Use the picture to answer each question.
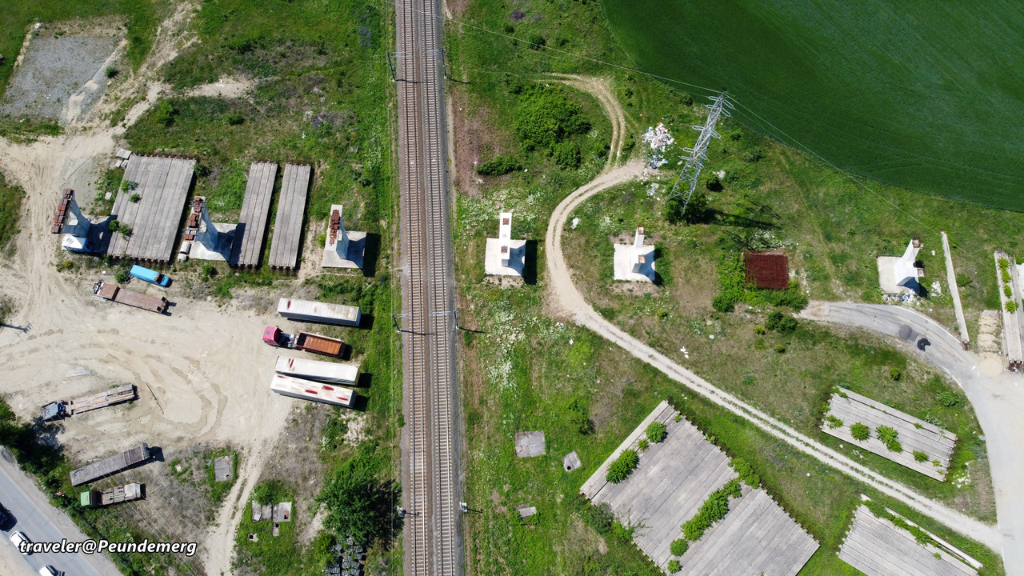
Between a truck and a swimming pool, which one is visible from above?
truck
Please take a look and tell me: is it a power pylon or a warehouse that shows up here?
power pylon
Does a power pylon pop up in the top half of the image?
Yes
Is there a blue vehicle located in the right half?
No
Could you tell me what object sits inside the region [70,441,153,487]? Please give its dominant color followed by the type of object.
gray trailer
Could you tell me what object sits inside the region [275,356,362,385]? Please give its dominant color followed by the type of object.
white trailer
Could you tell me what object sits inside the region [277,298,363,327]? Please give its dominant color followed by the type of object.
white trailer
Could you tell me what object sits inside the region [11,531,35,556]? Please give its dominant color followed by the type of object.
white car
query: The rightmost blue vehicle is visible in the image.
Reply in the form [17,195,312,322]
[130,264,170,289]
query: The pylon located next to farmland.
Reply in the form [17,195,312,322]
[660,97,737,225]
